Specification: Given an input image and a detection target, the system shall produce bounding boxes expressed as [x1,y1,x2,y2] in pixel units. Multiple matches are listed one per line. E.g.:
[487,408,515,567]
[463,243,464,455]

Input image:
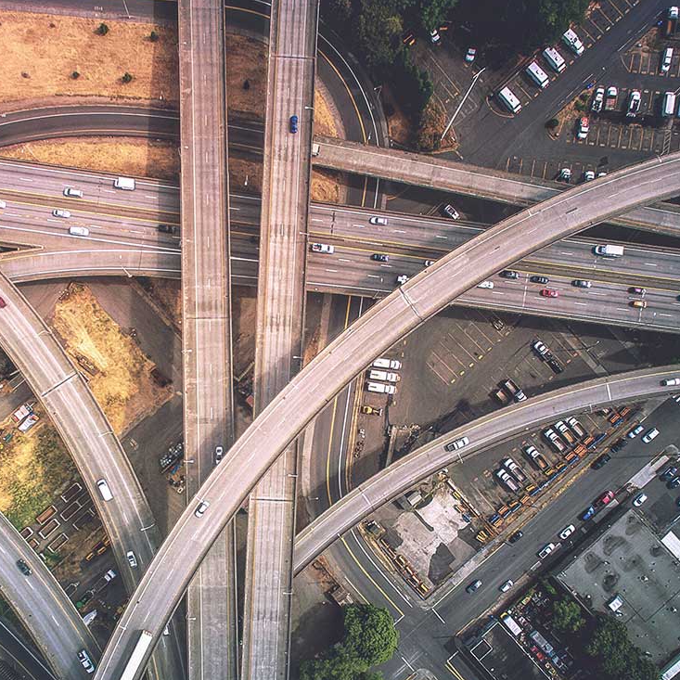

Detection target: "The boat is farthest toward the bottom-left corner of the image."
[83,609,98,627]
